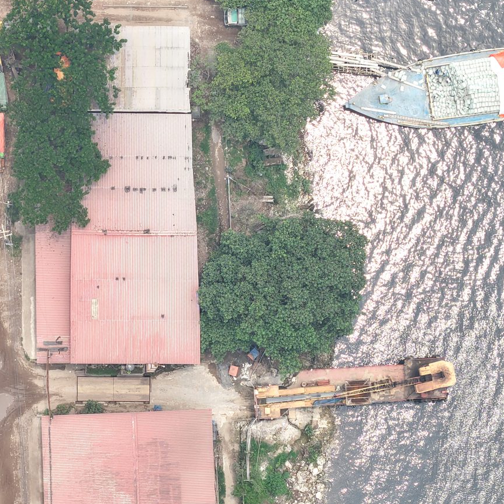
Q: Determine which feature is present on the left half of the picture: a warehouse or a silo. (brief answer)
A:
warehouse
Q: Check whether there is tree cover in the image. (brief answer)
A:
Yes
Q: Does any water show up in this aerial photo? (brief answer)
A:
Yes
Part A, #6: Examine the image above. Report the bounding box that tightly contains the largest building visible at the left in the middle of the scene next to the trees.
[35,114,201,367]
